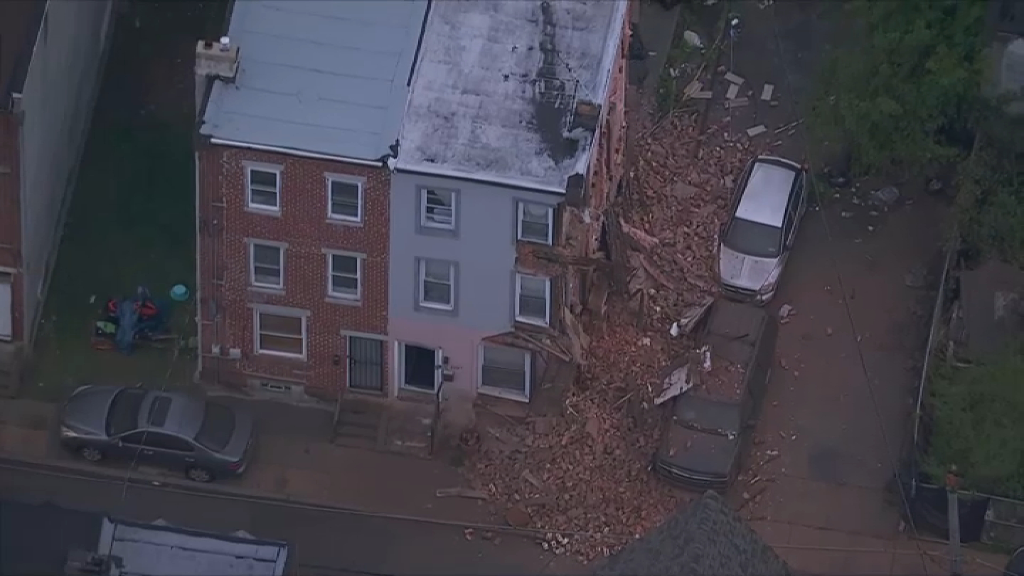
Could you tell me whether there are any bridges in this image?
No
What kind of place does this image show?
residential area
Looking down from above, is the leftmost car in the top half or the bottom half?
bottom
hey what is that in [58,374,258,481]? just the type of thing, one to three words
car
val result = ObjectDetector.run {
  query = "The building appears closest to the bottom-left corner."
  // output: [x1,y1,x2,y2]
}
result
[0,499,103,576]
